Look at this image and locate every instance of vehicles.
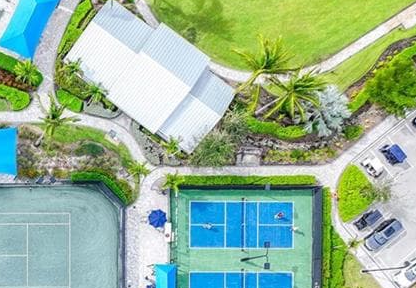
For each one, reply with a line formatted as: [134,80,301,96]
[383,146,410,165]
[364,219,407,250]
[355,209,387,231]
[396,266,416,288]
[363,158,388,178]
